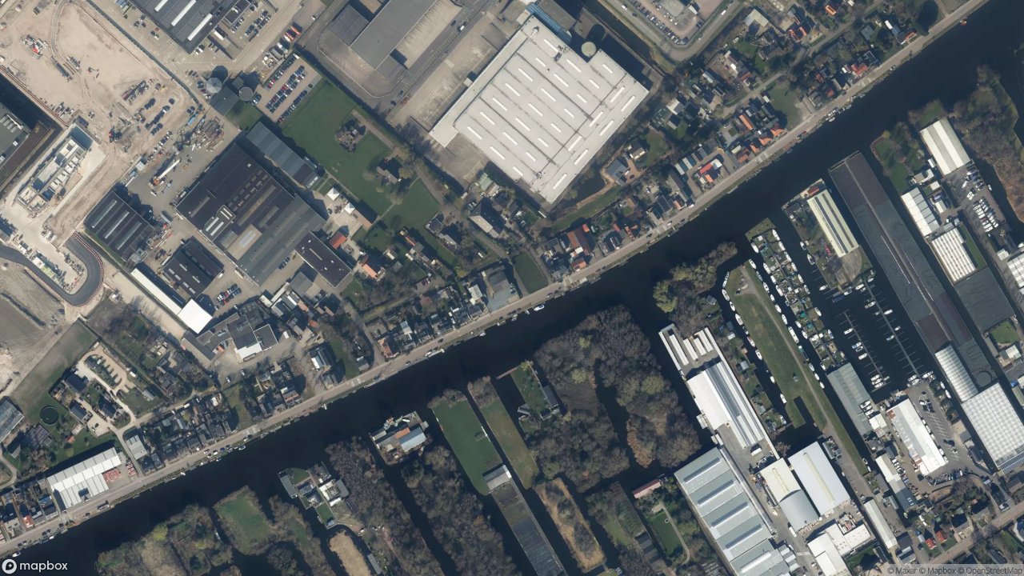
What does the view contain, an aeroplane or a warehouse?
warehouse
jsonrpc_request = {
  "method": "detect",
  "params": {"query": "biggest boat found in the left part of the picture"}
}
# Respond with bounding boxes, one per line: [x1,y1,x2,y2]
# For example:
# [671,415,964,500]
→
[278,470,294,496]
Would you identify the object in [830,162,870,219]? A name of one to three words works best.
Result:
house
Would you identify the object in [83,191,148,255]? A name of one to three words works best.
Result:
building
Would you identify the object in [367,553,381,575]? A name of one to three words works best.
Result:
boat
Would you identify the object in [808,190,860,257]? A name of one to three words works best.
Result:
shed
